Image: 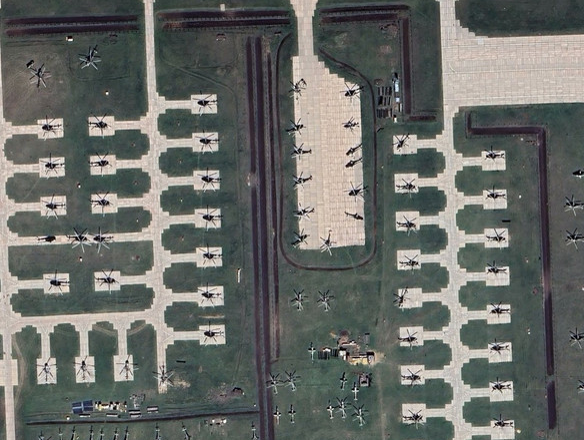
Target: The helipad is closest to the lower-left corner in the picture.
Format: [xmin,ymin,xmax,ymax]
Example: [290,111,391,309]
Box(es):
[36,358,56,384]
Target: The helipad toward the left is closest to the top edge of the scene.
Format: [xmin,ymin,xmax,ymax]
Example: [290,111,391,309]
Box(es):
[191,94,216,113]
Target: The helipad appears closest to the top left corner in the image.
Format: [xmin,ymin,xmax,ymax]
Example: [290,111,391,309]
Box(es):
[37,118,63,137]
